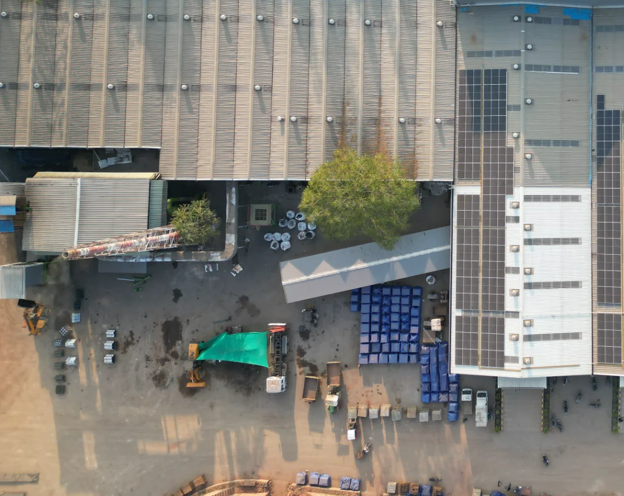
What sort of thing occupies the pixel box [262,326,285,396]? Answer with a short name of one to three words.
truck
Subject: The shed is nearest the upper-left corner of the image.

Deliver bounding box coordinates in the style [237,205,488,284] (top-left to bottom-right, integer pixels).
[0,0,166,148]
